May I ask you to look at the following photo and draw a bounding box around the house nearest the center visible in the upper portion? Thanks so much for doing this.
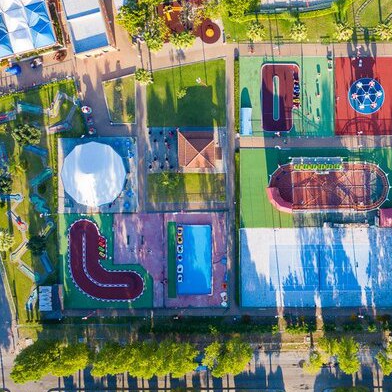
[176,130,222,168]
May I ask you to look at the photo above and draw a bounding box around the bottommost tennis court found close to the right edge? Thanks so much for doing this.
[240,228,392,308]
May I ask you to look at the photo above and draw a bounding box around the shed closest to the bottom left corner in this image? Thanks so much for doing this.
[39,284,67,316]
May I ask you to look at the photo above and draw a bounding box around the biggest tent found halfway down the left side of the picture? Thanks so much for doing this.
[59,141,127,208]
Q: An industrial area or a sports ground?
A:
sports ground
